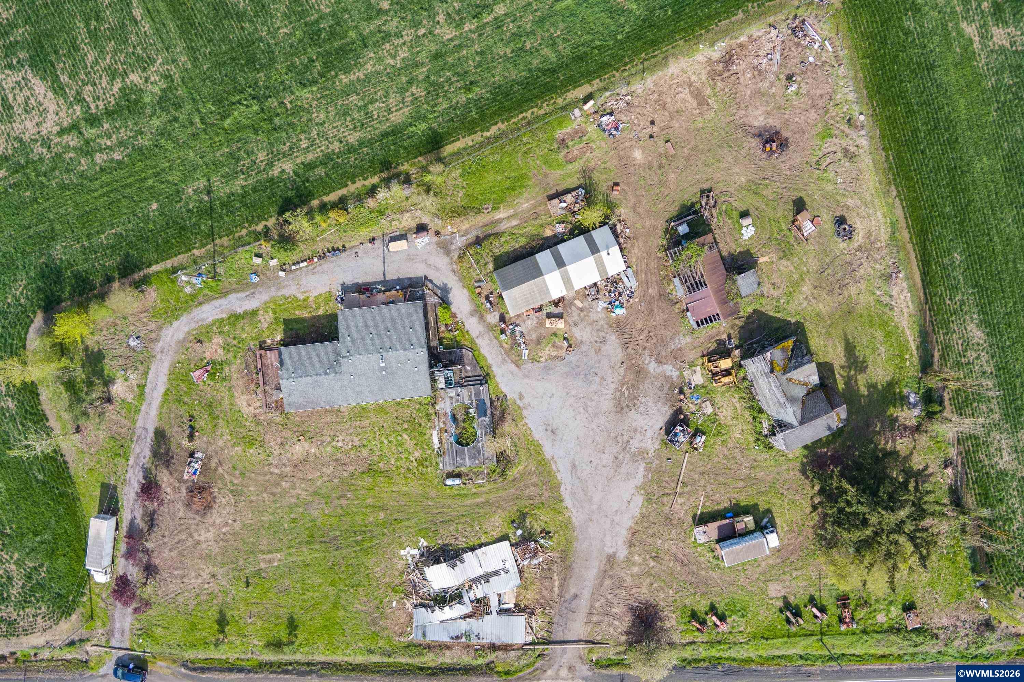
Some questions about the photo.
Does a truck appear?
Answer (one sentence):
Yes, there's a truck down there.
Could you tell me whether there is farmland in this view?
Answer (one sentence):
Yes, farmland can be seen from above here.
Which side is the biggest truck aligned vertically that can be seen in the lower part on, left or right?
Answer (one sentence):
It is on the left.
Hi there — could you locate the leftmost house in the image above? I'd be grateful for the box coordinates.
[278,300,432,413]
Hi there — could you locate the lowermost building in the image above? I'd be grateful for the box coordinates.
[413,541,526,644]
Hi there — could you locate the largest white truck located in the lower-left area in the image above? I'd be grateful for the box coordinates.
[86,515,120,583]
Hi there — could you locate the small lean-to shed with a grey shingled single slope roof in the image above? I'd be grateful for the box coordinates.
[732,269,760,296]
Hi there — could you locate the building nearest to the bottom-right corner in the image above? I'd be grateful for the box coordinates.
[740,335,847,452]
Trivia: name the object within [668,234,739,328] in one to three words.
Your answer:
shed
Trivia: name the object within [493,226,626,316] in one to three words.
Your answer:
building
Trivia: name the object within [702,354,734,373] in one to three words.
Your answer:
work vehicle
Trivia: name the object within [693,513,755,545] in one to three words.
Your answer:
truck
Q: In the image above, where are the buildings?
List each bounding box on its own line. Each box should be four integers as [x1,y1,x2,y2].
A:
[493,226,626,316]
[668,234,739,328]
[413,541,526,644]
[740,335,847,452]
[278,300,432,413]
[732,269,760,296]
